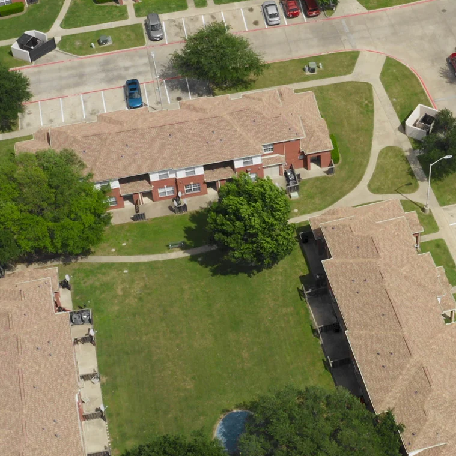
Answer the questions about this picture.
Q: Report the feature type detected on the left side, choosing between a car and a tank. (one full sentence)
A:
What appears on the left side is a car.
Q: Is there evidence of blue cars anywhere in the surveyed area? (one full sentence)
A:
Yes, there is a blue car in the image.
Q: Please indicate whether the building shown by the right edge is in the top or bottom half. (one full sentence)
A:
The bottom half of the photo is where the building shown by the right edge is.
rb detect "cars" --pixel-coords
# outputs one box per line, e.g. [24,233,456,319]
[280,0,301,18]
[448,53,456,77]
[261,0,281,26]
[125,79,143,108]
[146,11,163,39]
[301,0,321,17]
